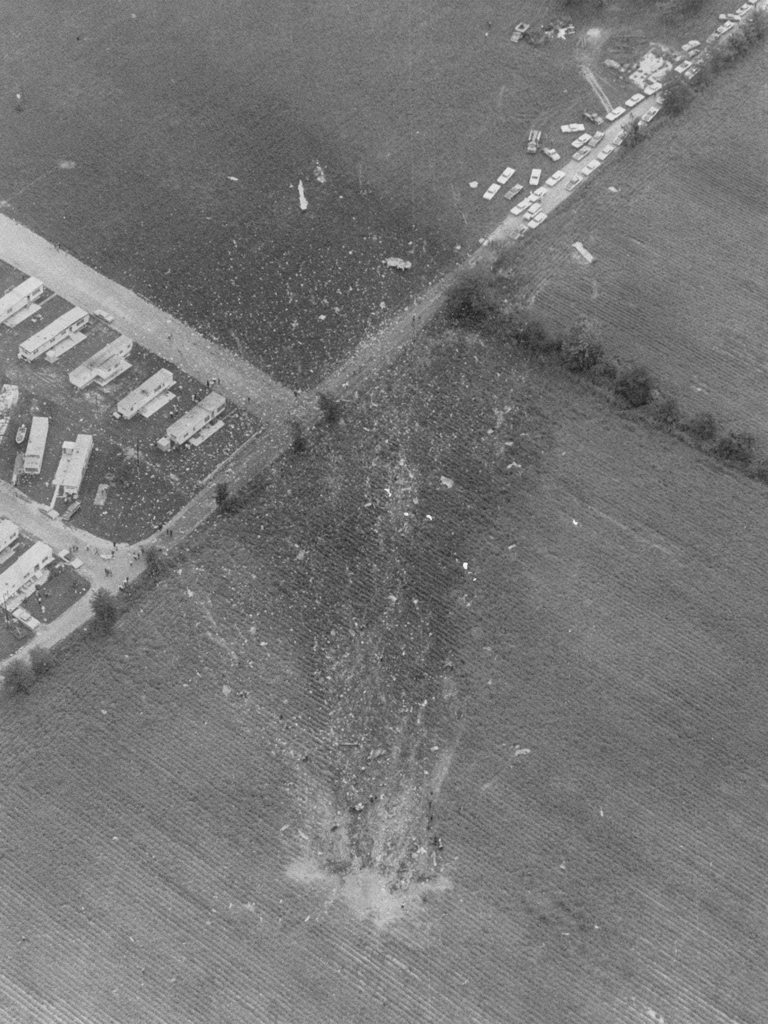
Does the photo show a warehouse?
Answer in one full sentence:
No, I can't see a single warehouse in this photo.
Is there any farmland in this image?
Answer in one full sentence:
Yes, farmland can be seen from above here.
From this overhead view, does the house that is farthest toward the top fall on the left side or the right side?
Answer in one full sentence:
It is on the right.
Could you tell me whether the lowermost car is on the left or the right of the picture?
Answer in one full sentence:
You can find the lowermost car on the left side of the picture.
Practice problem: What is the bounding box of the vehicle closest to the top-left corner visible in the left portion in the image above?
[91,308,116,324]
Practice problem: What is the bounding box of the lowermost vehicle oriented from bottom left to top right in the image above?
[60,499,83,523]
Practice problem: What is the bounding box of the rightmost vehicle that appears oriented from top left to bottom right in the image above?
[583,108,606,126]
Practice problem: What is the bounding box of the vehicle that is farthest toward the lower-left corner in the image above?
[11,607,41,628]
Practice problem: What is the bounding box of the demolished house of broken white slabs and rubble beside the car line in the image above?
[599,30,697,96]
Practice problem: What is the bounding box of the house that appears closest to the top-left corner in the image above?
[0,276,45,322]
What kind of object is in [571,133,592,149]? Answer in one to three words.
car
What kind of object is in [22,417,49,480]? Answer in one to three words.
house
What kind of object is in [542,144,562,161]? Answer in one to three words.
vehicle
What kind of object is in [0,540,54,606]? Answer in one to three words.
house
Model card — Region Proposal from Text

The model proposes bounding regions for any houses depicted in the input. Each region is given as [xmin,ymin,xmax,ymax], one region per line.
[0,385,25,435]
[599,30,697,96]
[167,391,227,445]
[20,306,89,361]
[0,276,45,322]
[115,366,174,421]
[22,417,49,480]
[53,434,94,500]
[0,519,20,553]
[0,540,54,606]
[70,334,133,388]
